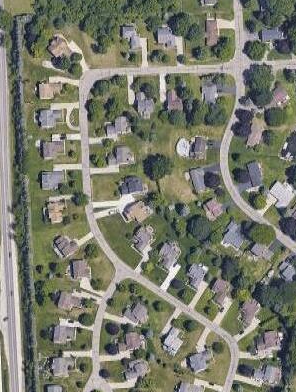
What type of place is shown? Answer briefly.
residential area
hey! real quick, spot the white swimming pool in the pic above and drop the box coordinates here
[177,137,190,156]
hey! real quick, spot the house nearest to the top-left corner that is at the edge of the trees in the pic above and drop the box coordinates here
[47,35,71,57]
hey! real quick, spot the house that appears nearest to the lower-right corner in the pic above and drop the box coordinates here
[253,363,280,381]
